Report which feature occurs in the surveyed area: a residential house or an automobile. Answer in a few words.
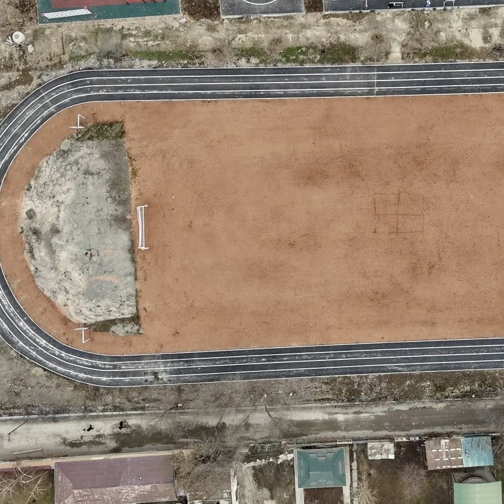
residential house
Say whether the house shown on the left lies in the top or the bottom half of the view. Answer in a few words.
bottom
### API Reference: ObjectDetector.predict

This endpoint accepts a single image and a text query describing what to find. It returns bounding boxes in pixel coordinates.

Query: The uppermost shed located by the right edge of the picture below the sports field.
[423,430,493,470]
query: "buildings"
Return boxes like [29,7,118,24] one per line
[423,430,493,470]
[450,475,502,504]
[297,443,346,488]
[55,449,178,504]
[367,437,395,460]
